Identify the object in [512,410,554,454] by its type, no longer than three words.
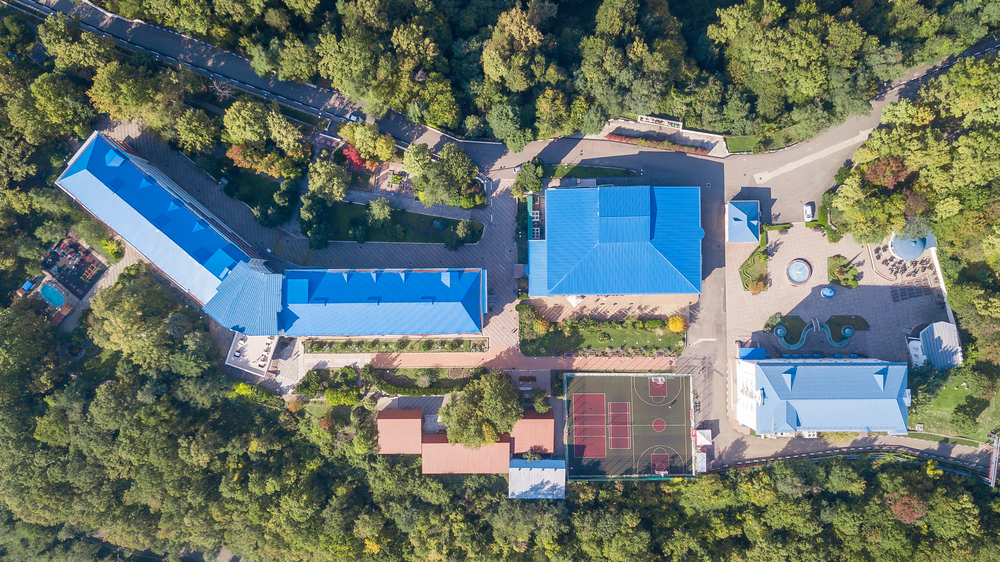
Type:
house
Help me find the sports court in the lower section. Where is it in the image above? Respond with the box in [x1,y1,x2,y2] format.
[565,375,692,475]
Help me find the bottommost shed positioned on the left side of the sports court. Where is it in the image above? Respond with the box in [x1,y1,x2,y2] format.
[509,457,565,499]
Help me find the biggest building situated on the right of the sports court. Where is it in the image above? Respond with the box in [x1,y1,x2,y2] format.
[732,341,912,442]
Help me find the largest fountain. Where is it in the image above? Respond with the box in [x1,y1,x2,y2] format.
[786,257,813,283]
